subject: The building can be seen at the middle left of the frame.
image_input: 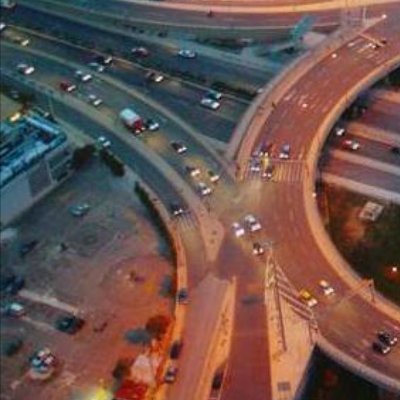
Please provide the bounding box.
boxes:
[0,108,70,227]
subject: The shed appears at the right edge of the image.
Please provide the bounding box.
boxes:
[358,198,384,221]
